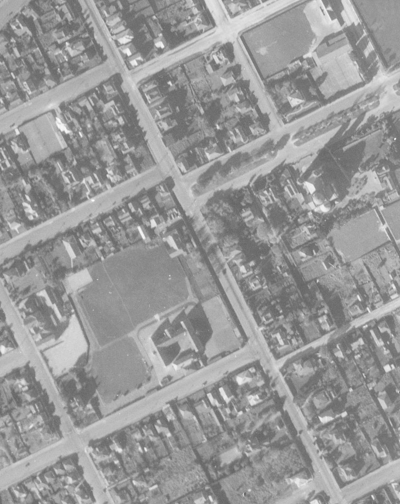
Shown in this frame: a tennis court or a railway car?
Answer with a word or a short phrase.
tennis court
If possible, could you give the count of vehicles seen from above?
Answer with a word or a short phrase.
0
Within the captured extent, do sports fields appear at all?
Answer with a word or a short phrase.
Yes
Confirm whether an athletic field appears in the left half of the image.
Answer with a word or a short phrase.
Yes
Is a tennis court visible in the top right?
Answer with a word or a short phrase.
Yes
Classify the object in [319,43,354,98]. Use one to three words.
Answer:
tennis court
